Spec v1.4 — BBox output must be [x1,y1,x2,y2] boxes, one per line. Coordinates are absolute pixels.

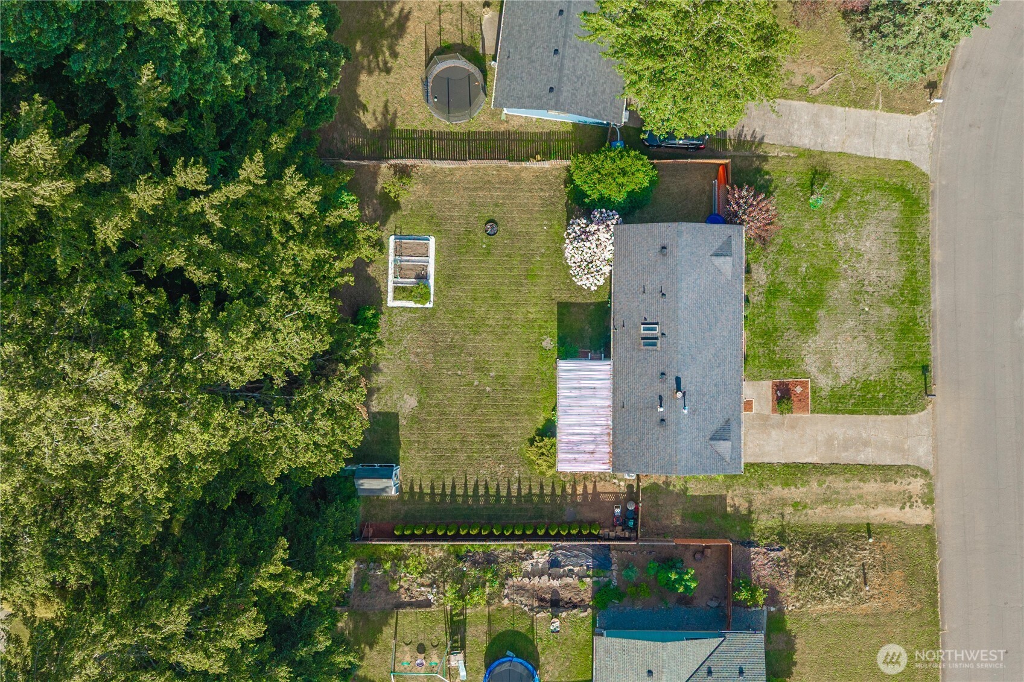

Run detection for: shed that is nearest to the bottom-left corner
[351,461,401,498]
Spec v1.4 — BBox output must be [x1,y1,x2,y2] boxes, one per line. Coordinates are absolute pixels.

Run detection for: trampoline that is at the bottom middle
[482,652,540,682]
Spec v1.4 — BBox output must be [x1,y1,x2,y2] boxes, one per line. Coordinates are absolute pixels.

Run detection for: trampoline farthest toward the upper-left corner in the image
[422,52,486,124]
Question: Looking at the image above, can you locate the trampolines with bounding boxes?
[422,52,486,124]
[482,652,540,682]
